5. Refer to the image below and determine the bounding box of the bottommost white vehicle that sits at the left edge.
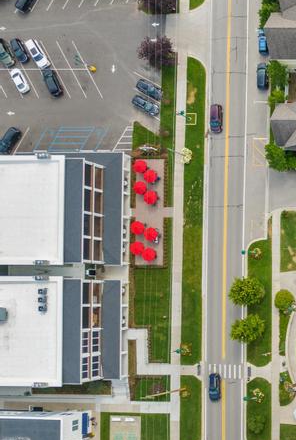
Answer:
[8,67,31,94]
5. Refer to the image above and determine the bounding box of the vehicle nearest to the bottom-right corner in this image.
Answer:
[207,373,222,401]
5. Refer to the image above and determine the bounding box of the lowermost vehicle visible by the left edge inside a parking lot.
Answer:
[0,128,24,154]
